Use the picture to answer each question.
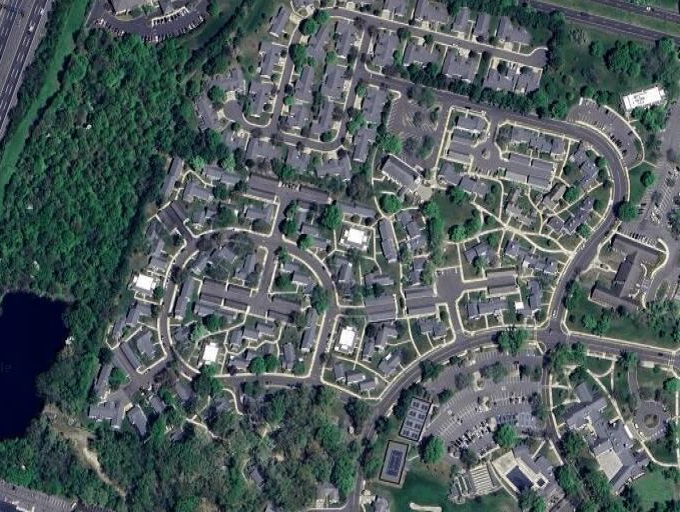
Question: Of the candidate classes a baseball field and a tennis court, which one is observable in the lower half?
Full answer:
What appears in the lower half is a tennis court.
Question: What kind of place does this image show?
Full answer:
It's a residential area.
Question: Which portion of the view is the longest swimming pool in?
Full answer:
Look in the bottom right portion of the view to spot the longest swimming pool.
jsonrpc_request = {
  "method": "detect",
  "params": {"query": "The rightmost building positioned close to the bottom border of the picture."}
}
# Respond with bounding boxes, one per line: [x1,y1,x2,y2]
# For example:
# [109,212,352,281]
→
[564,384,652,492]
